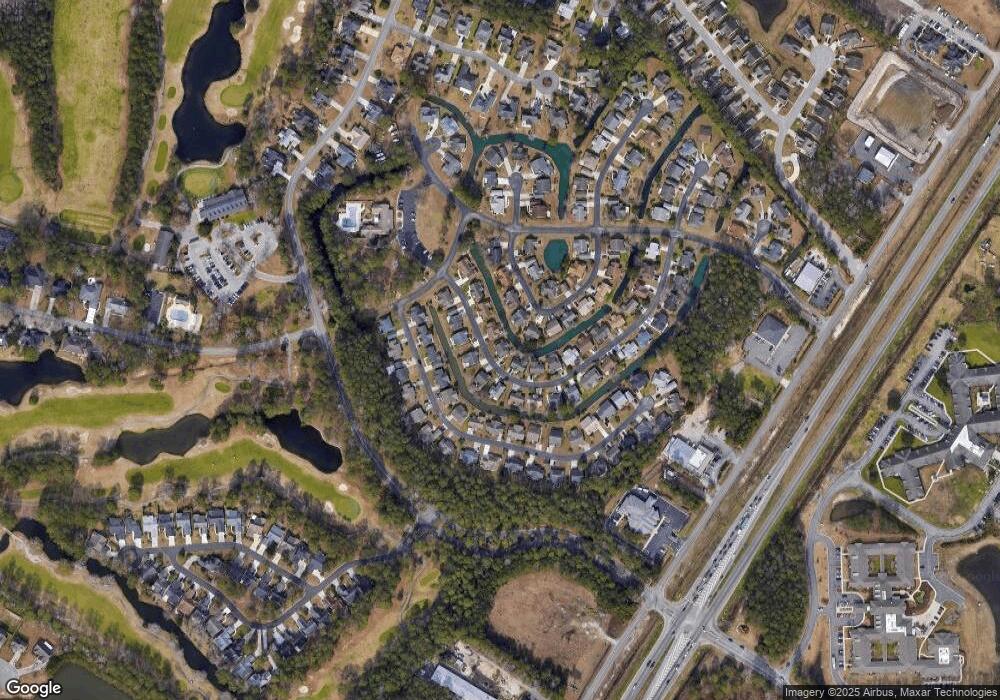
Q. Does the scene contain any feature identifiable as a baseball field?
No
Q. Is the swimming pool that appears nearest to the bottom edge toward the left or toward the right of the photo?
left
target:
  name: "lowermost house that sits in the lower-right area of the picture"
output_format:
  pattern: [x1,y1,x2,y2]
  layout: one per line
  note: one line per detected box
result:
[849,541,962,674]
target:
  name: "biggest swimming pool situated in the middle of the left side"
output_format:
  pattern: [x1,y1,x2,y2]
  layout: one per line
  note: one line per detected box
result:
[166,304,201,333]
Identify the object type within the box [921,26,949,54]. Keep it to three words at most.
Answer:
building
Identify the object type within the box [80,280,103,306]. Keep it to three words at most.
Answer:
house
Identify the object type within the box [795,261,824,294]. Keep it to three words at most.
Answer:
building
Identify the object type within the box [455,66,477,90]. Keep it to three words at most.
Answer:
house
